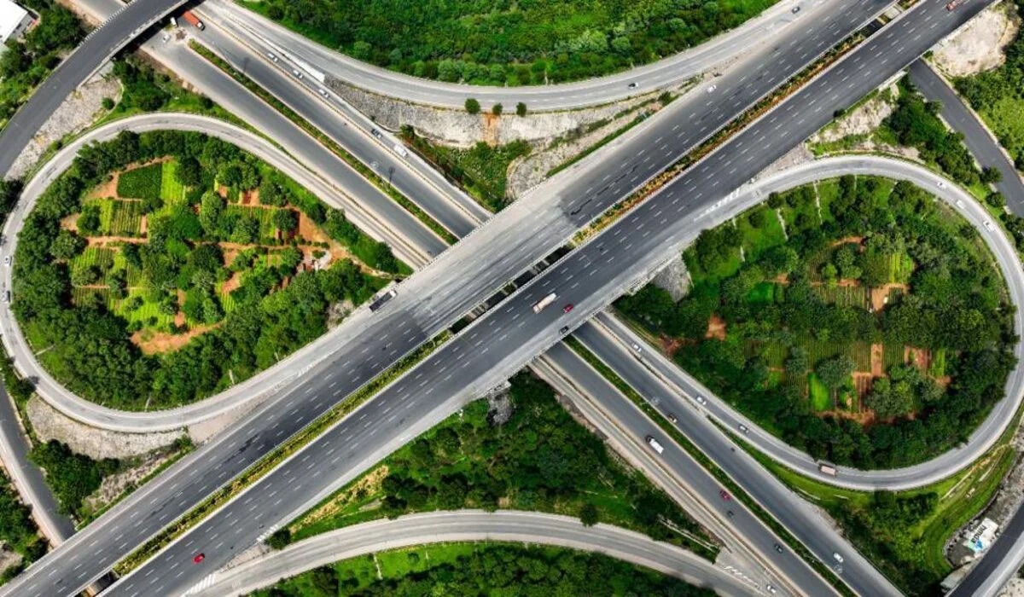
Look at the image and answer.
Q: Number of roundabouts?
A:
0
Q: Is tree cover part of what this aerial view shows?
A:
Yes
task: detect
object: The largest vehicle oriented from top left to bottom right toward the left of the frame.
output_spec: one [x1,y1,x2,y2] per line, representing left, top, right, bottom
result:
[178,6,204,28]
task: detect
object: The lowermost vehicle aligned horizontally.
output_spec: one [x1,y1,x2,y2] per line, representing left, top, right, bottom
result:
[819,464,838,476]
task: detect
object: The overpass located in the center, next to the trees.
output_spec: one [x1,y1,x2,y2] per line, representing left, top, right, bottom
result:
[440,238,601,392]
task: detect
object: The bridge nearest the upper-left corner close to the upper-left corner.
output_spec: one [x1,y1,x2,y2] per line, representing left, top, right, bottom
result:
[94,0,186,56]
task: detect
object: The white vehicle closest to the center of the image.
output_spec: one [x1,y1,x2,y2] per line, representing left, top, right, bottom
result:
[535,293,557,311]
